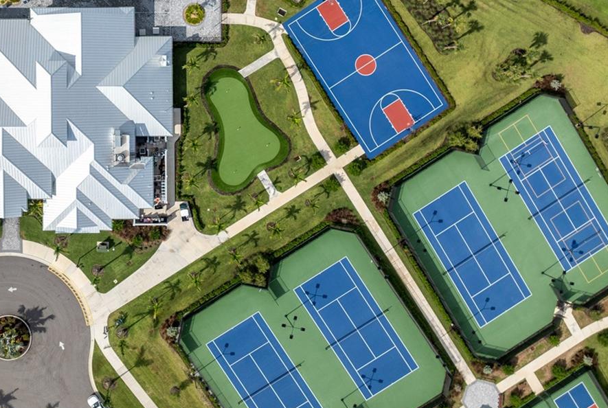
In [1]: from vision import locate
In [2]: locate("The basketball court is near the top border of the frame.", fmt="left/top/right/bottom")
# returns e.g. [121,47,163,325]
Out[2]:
[281,0,448,159]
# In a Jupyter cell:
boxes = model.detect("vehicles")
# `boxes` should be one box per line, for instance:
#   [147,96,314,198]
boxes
[87,391,106,408]
[180,202,189,220]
